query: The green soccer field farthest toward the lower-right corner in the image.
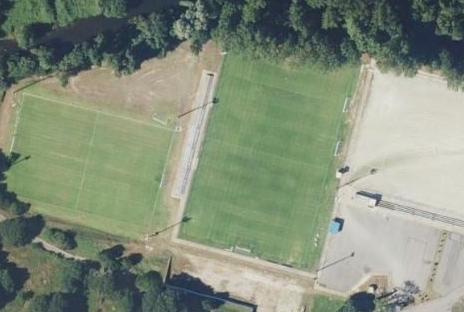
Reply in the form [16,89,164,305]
[180,54,362,272]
